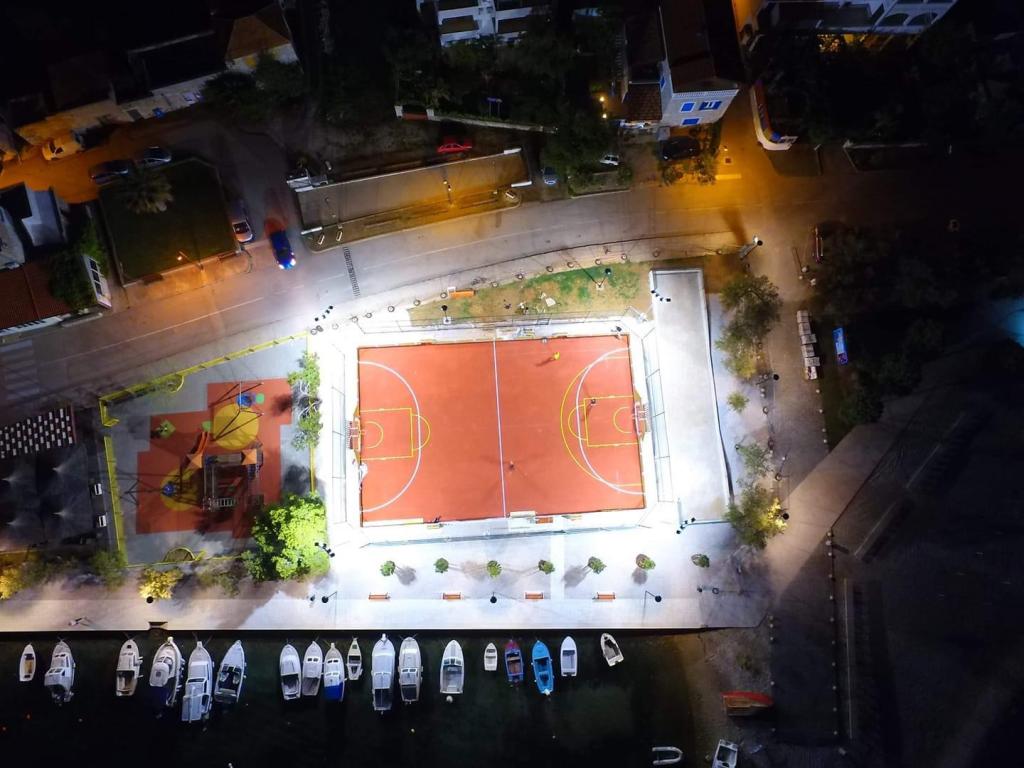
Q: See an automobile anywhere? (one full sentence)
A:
Yes, an automobile can be made out from above.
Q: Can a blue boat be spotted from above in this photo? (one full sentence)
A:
Yes, there is a blue boat in the image.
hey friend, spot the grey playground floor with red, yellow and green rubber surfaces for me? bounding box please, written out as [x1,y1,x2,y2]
[99,335,318,564]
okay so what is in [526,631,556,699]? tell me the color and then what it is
blue boat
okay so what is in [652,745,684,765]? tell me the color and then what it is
gray boat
